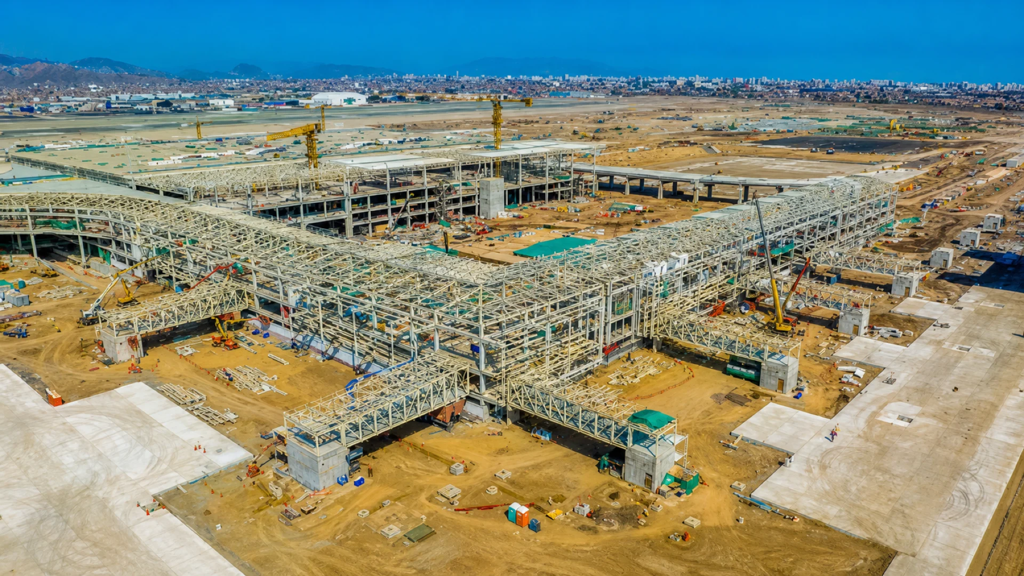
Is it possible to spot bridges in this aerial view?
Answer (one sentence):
Yes, you can see a bridge in this photo.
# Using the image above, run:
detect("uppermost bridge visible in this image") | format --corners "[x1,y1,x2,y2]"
[550,163,804,202]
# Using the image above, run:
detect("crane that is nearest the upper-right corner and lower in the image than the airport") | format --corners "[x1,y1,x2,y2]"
[750,190,794,333]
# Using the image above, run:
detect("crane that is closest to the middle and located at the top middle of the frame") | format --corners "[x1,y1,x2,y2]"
[407,91,532,175]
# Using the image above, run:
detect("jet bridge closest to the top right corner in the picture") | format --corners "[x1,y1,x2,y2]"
[809,241,924,277]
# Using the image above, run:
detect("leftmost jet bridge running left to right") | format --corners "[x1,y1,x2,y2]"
[94,278,263,338]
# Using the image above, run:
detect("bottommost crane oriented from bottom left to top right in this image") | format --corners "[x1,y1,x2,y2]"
[76,250,167,327]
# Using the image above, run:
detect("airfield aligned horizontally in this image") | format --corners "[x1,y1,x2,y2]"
[0,98,778,144]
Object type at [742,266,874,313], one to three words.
jet bridge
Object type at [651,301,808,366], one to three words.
jet bridge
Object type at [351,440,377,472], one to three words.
truck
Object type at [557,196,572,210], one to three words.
work vehicle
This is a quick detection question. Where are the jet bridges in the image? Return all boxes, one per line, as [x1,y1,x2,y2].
[504,359,683,459]
[742,266,874,313]
[280,353,475,457]
[651,301,808,366]
[94,278,263,338]
[809,241,924,277]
